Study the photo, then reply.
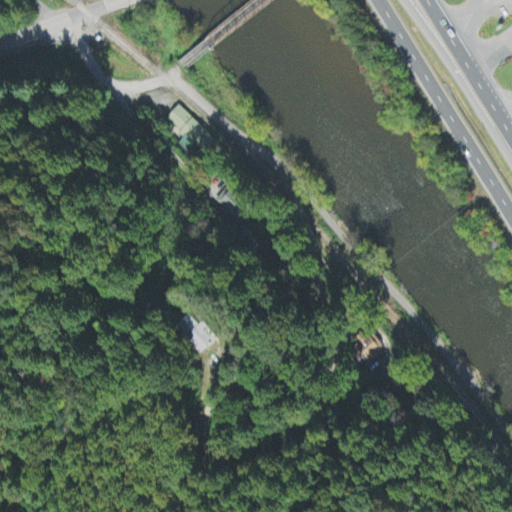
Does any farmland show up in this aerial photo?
No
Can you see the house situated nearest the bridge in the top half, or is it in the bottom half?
top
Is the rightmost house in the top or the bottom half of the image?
bottom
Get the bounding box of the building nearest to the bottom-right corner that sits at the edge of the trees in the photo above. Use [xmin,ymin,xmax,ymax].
[352,330,383,358]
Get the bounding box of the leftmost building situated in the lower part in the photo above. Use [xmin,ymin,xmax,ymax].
[182,322,218,354]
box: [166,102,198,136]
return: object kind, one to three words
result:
house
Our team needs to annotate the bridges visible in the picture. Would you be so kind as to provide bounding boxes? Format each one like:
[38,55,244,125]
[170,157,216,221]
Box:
[179,0,280,70]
